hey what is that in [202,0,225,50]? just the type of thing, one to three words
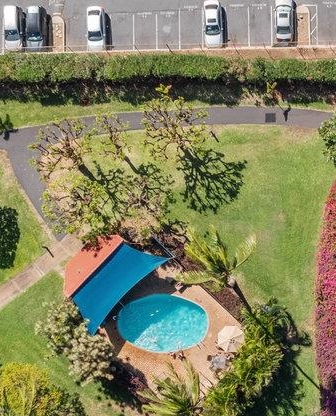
car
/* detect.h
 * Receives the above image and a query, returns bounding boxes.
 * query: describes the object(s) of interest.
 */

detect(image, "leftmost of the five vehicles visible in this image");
[1,3,27,57]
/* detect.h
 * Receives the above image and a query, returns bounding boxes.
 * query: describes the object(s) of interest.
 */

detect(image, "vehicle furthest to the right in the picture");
[273,0,296,44]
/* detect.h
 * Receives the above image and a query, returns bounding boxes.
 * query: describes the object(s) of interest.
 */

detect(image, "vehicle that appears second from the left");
[23,5,49,56]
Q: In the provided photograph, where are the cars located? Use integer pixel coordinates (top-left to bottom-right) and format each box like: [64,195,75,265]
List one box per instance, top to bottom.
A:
[202,0,225,50]
[273,0,296,44]
[1,3,27,57]
[85,4,108,55]
[23,5,49,56]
